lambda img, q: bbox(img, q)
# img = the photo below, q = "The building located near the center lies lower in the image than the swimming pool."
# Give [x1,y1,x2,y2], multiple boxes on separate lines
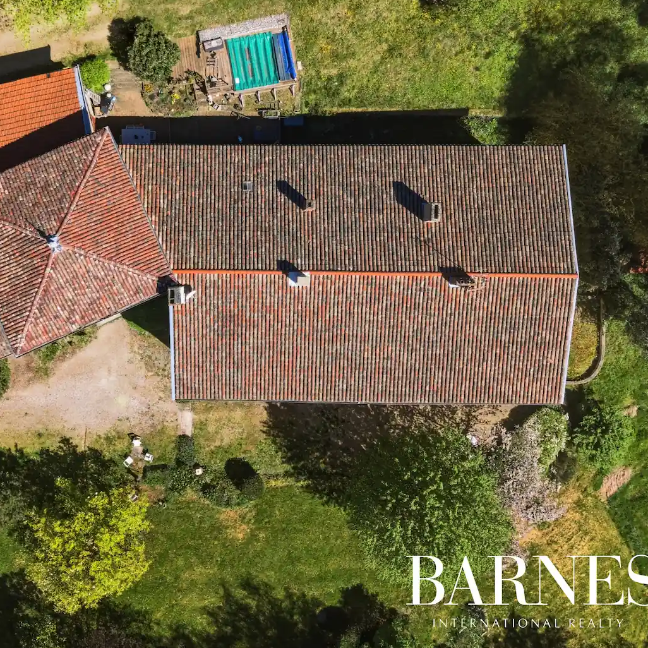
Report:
[116,143,580,405]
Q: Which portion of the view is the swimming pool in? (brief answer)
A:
top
